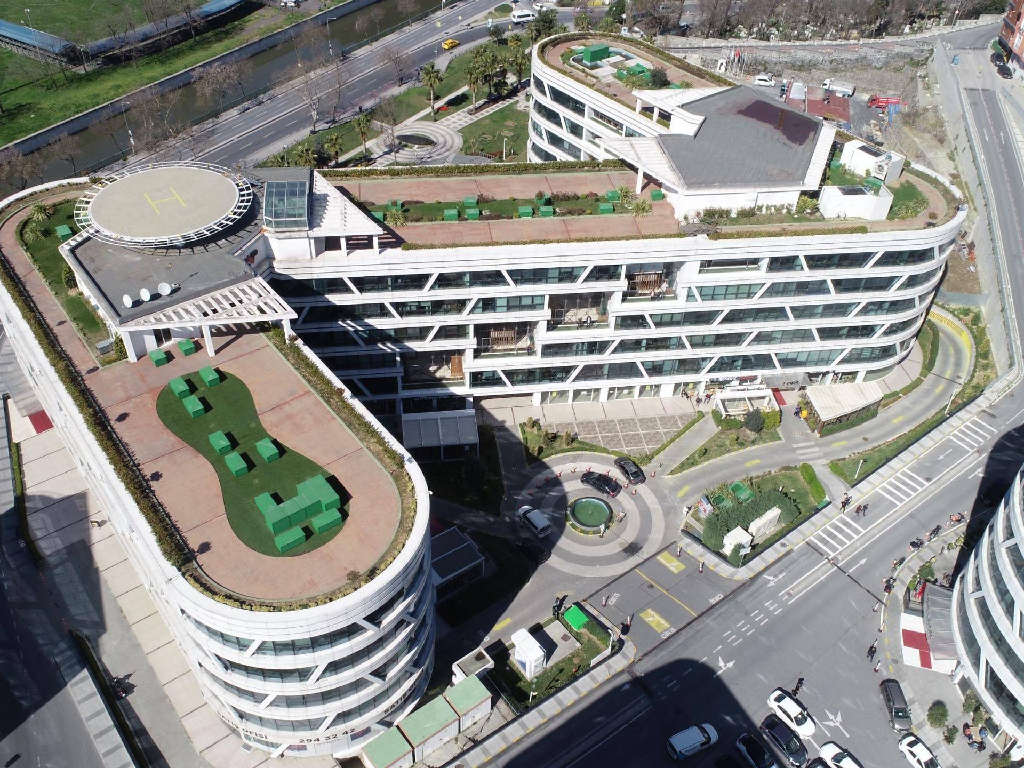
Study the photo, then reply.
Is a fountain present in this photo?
Yes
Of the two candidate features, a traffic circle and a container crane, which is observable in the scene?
traffic circle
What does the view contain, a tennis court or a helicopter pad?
helicopter pad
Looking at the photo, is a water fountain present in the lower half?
Yes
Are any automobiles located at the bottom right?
Yes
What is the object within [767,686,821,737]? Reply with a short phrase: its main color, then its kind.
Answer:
white car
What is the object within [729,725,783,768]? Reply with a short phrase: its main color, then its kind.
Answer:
black car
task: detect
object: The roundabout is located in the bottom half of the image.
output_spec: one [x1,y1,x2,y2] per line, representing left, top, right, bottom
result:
[493,453,687,592]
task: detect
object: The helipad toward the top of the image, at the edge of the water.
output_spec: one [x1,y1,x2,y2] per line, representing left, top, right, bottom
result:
[75,160,262,246]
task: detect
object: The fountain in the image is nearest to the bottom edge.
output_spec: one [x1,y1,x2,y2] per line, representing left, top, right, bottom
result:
[558,490,623,539]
